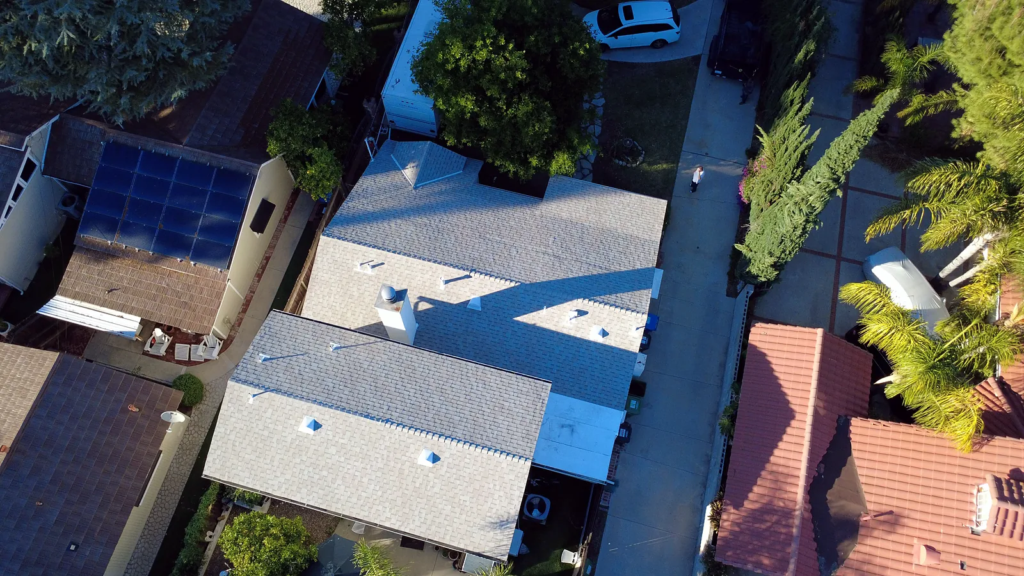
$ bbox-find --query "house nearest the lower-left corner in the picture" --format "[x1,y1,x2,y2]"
[0,340,192,576]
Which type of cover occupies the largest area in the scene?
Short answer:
buildings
